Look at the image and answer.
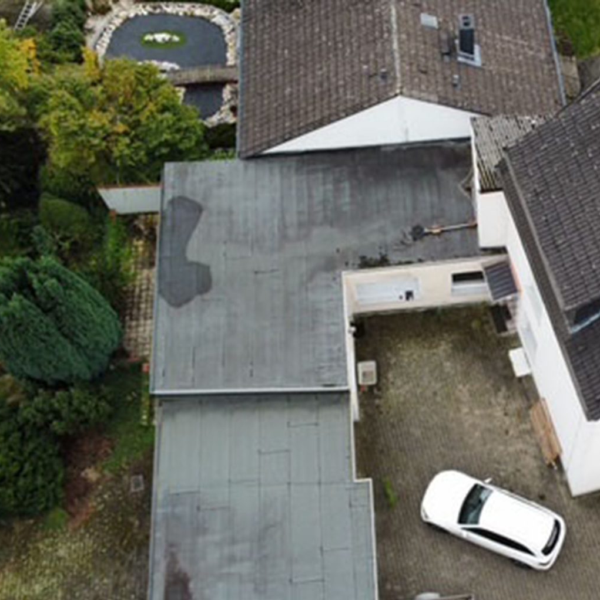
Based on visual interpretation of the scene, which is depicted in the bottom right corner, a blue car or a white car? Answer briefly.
white car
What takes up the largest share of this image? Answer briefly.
buildings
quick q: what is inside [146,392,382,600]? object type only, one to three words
building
